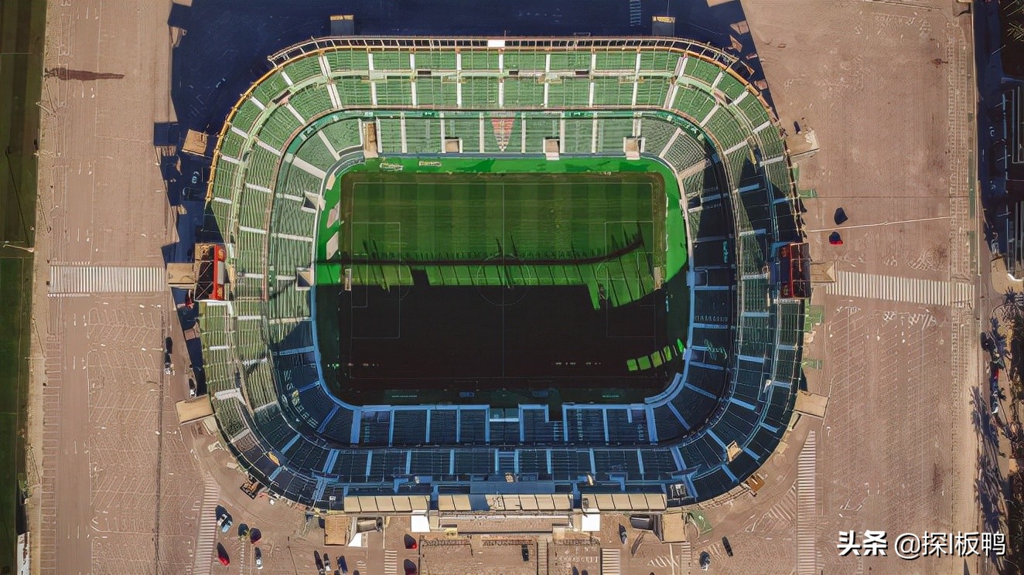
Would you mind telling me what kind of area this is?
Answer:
sports ground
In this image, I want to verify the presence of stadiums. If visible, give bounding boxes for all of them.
[167,15,835,552]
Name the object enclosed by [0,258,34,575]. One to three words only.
sports field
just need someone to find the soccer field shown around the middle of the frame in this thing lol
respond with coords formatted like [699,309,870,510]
[316,158,691,405]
